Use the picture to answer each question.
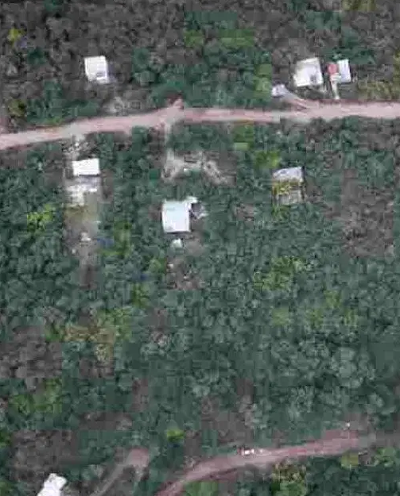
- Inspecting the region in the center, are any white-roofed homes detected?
Yes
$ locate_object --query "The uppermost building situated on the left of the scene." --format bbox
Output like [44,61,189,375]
[84,57,121,84]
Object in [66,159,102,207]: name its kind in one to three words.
house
